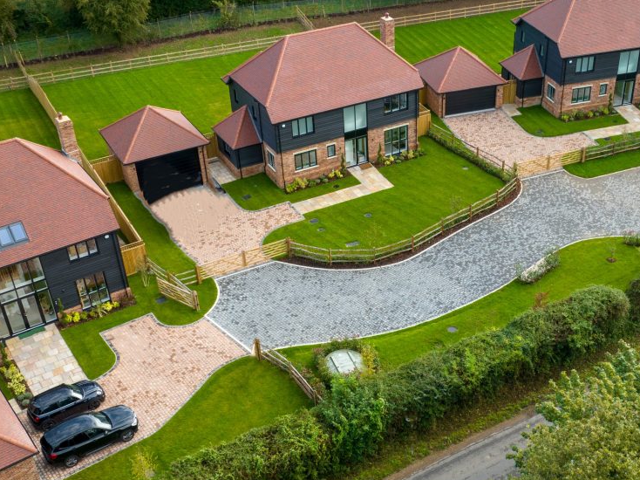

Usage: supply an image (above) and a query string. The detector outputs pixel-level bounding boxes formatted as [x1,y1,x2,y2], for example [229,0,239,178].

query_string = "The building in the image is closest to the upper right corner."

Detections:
[499,0,640,117]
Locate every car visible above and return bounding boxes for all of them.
[17,377,106,431]
[37,405,139,470]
